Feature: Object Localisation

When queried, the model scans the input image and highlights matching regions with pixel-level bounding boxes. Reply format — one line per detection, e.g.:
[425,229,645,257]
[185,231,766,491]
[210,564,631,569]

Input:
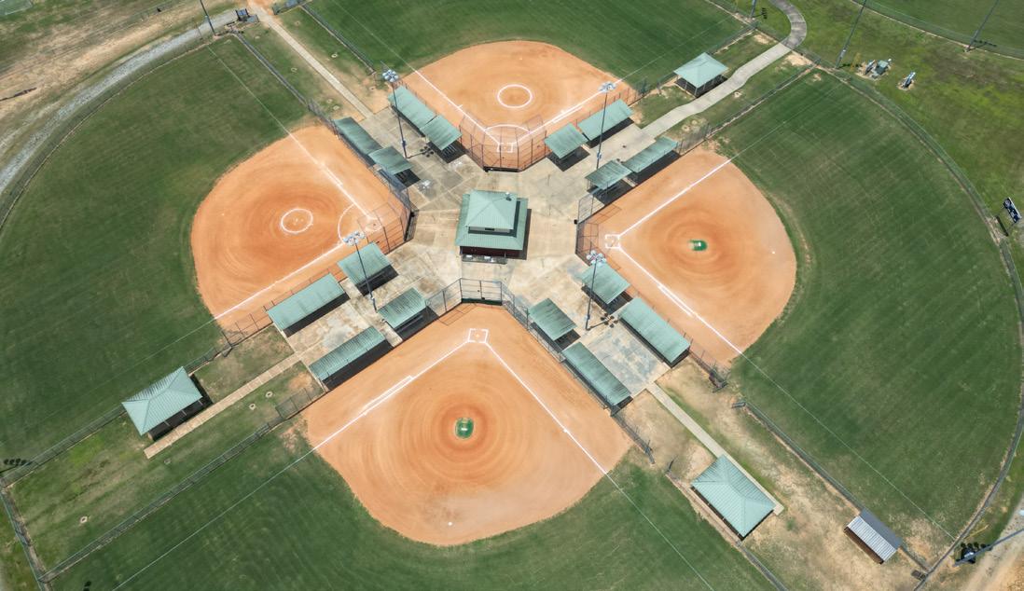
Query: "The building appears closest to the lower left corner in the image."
[122,366,206,440]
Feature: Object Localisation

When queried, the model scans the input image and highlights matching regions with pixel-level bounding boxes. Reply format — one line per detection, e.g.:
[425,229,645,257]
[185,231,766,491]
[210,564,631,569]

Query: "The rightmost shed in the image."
[840,507,903,564]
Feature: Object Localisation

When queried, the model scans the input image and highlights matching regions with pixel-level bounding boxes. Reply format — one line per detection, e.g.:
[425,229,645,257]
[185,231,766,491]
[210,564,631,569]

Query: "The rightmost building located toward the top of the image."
[673,53,729,97]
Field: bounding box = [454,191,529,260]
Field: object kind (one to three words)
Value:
building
